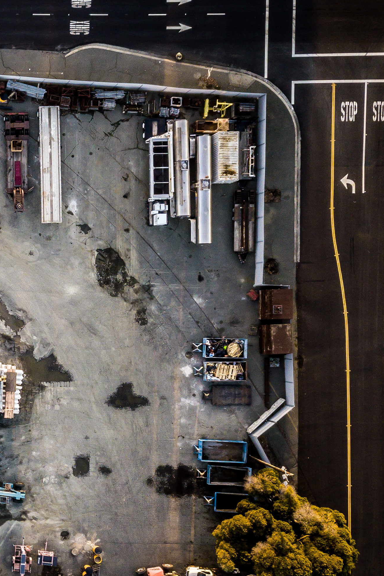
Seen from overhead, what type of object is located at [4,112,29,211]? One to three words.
trailer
